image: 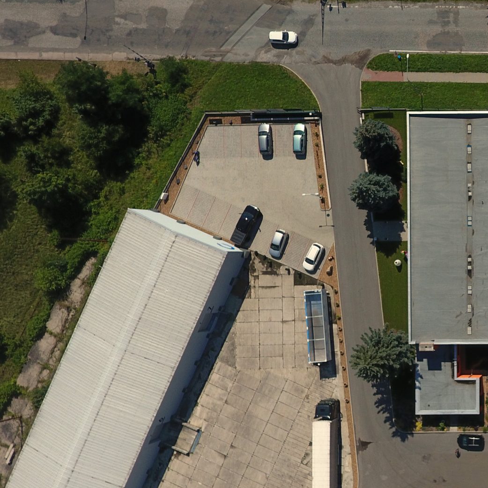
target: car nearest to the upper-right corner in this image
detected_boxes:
[269,30,297,46]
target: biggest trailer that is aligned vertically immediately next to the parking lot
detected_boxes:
[304,288,332,363]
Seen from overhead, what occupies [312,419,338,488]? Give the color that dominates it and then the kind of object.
white trailer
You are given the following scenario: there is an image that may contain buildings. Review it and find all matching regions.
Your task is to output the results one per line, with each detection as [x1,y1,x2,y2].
[406,111,488,351]
[5,208,246,488]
